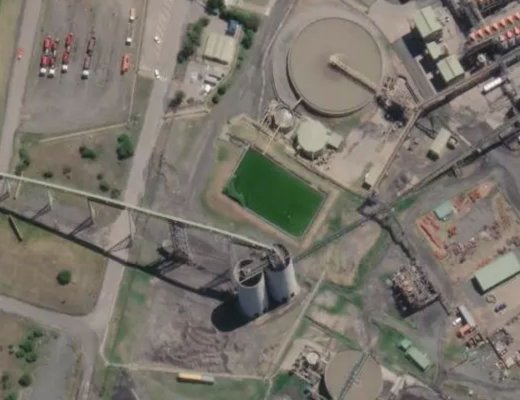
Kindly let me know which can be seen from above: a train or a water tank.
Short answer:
water tank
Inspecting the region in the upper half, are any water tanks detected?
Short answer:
Yes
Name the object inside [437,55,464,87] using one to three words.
building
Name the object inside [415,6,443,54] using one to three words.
building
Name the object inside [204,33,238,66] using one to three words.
shed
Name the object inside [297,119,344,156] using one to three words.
water tank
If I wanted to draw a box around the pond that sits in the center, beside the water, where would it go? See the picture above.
[222,145,329,239]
